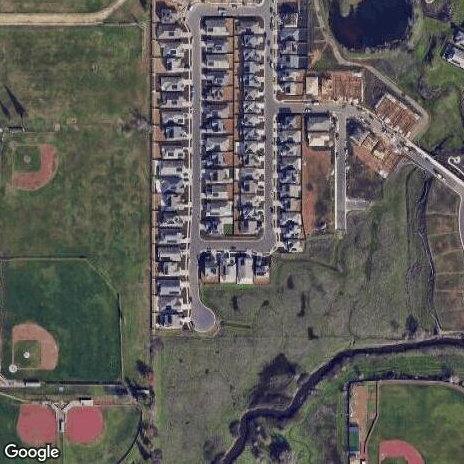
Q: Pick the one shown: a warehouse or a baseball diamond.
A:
baseball diamond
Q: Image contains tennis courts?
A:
No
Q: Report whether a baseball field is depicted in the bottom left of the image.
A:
Yes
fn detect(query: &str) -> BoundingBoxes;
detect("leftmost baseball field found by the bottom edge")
[0,392,61,464]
